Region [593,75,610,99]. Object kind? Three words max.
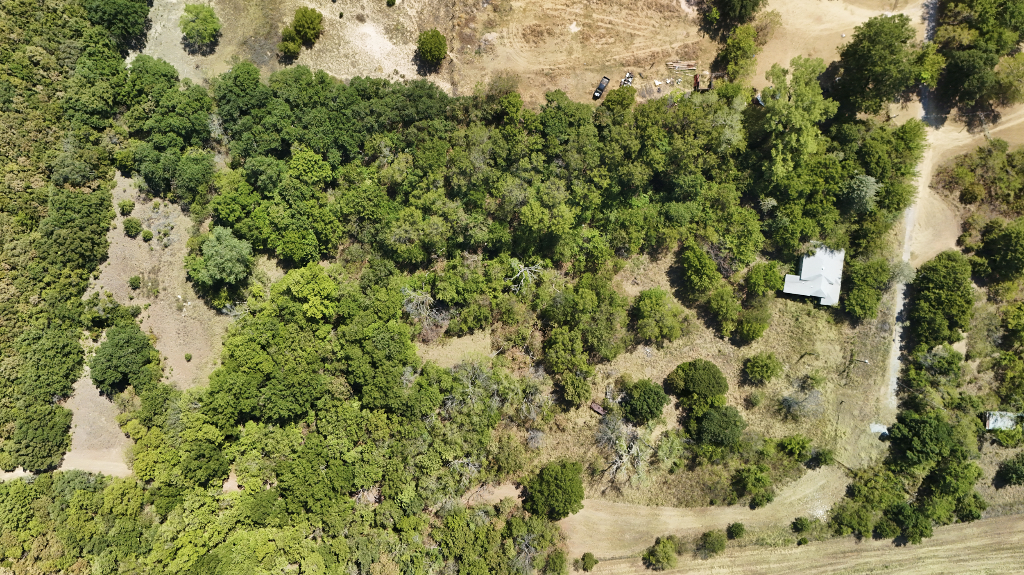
vehicle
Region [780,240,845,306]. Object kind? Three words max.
house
